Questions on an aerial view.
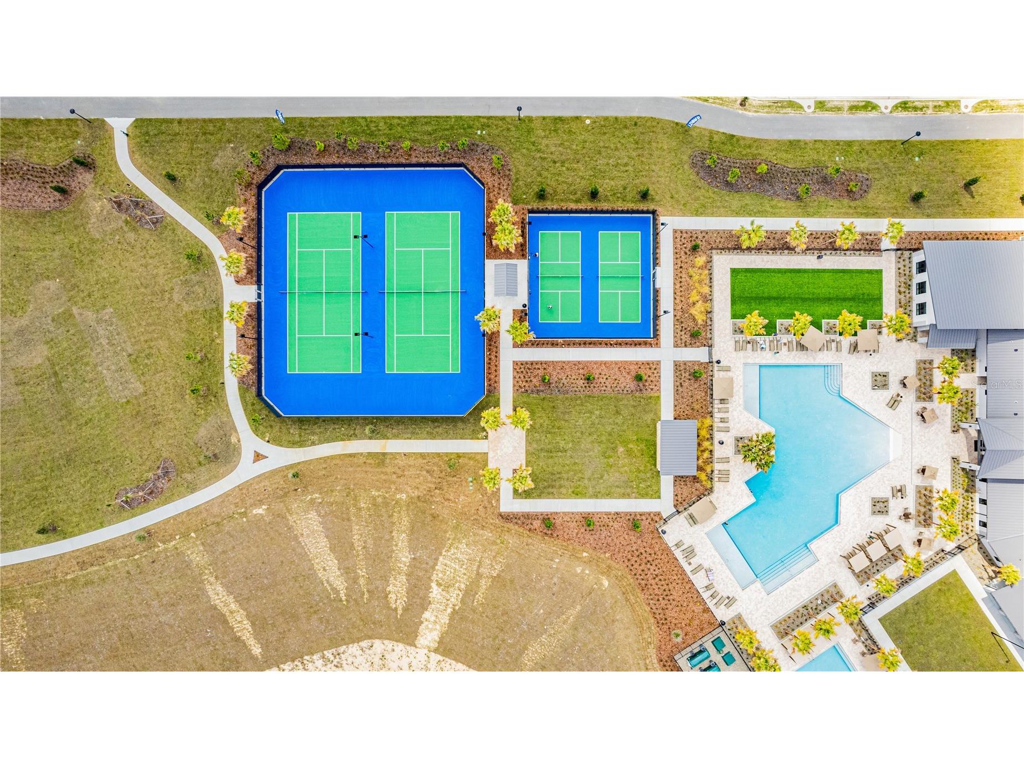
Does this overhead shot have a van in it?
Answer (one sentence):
No, I find no van anywhere in the image.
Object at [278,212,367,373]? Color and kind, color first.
green tennis court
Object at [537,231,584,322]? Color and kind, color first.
green sports court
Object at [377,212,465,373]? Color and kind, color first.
green tennis court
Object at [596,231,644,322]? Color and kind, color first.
green sports court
